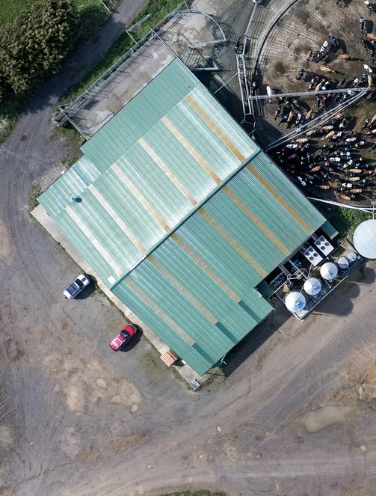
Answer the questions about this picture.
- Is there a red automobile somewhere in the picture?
Yes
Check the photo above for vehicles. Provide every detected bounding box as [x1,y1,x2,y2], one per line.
[106,323,138,353]
[59,272,95,302]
